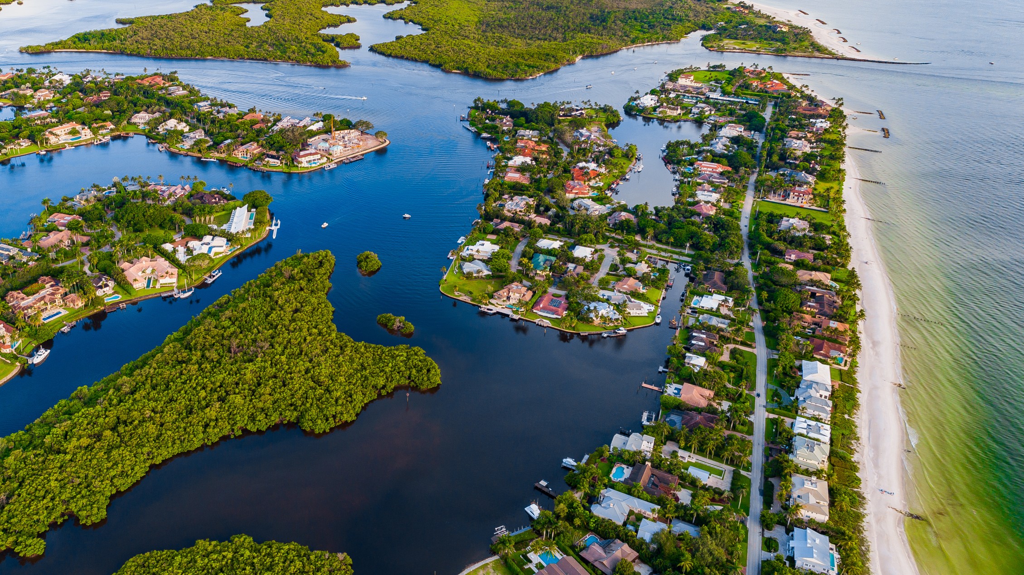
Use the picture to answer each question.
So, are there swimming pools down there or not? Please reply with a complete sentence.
Yes, I can see a swimming pool in this picture.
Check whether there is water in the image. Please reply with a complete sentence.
Yes, water can be seen from above here.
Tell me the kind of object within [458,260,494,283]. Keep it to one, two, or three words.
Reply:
house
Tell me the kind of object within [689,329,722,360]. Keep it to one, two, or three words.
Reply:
house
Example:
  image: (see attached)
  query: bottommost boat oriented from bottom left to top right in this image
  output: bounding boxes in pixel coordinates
[33,348,51,364]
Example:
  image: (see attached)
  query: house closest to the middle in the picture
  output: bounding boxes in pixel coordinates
[491,282,536,306]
